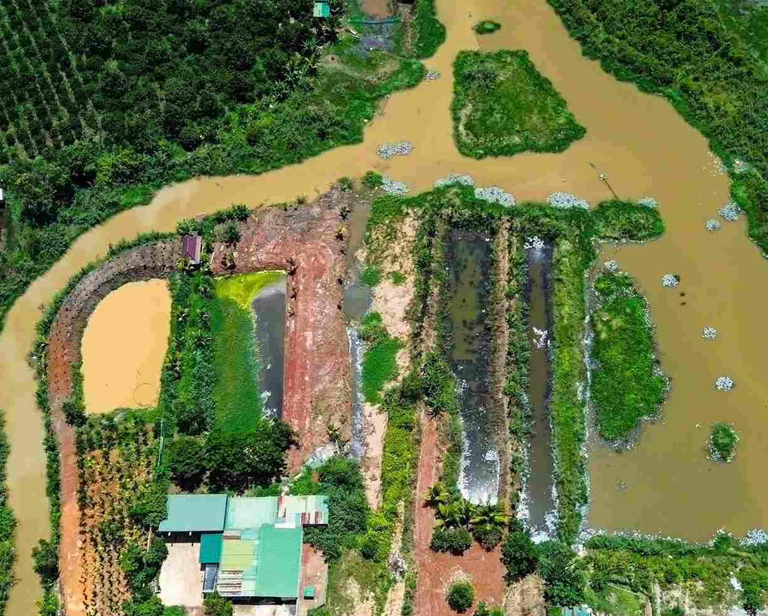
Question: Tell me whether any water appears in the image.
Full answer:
Yes, water shows up in the scene.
